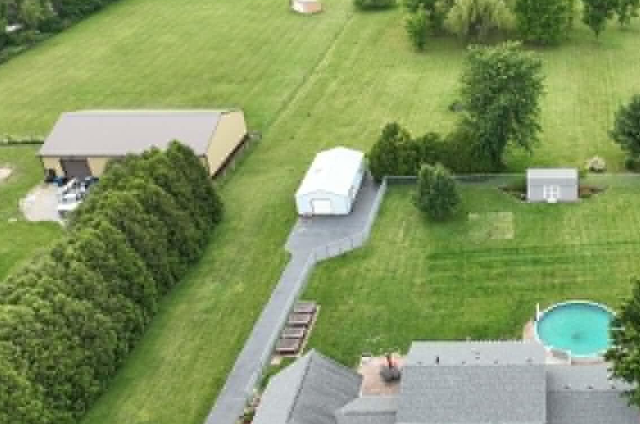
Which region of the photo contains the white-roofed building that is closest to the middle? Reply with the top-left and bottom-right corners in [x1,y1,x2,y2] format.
[293,128,374,215]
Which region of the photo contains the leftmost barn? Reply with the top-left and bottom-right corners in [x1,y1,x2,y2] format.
[32,110,239,176]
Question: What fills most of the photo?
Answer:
grass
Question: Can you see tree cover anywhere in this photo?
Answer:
Yes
